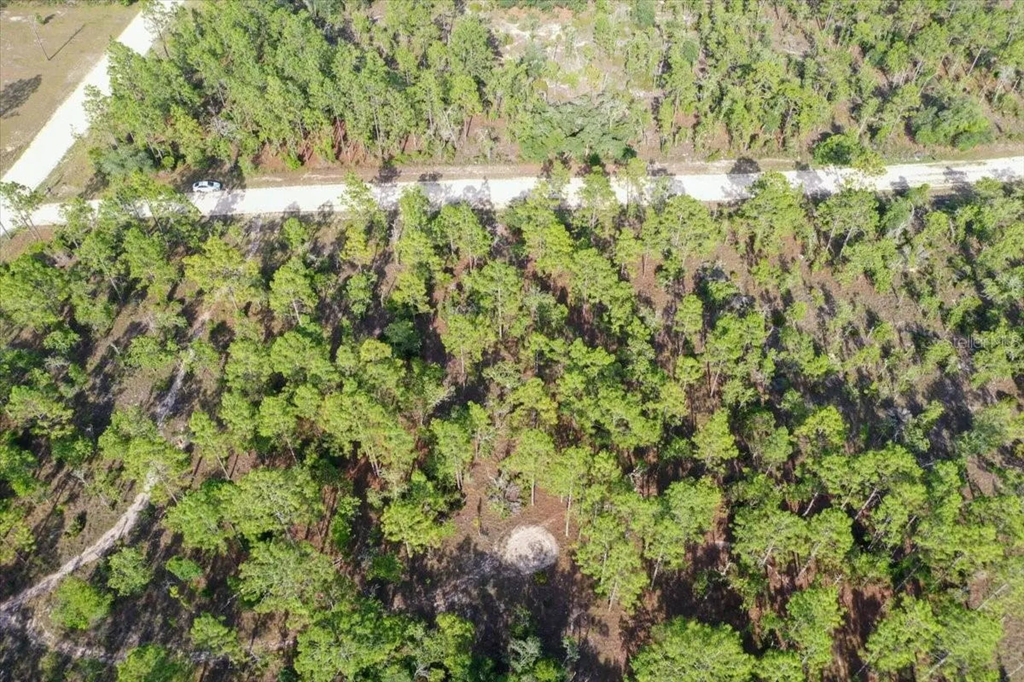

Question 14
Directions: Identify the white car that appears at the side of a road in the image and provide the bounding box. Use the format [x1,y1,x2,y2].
[191,181,222,193]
